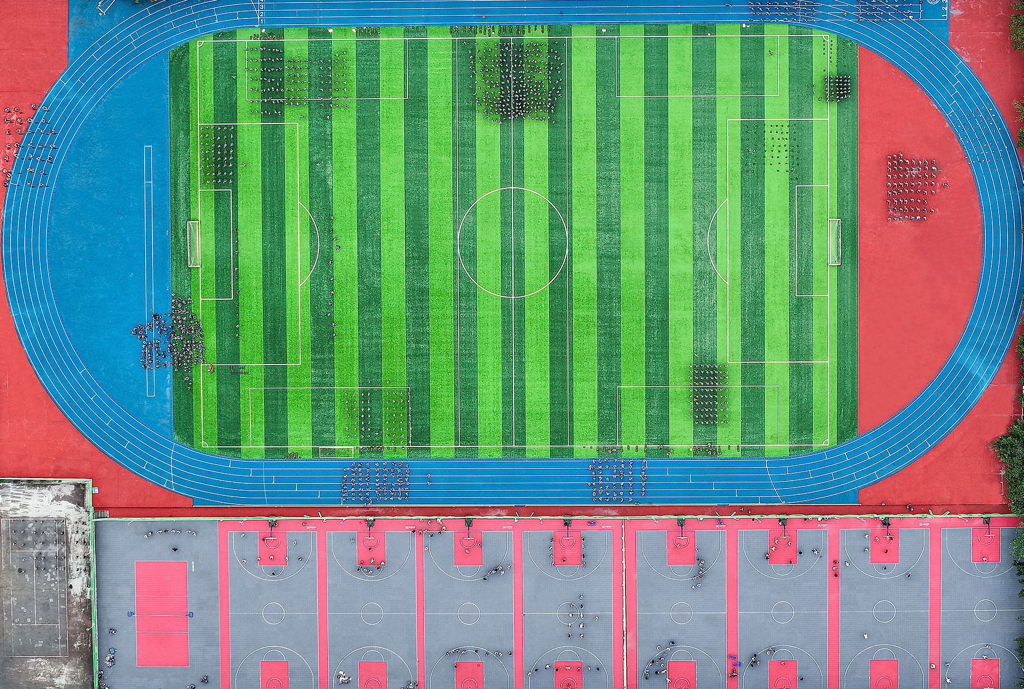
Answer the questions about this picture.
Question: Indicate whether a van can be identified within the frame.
No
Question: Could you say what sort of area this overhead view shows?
sports ground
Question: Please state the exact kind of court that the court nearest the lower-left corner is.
tennis court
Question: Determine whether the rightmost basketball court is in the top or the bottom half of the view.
bottom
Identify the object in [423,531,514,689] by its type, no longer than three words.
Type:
basketball court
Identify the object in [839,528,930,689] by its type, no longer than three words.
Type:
basketball court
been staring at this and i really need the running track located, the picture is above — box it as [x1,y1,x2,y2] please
[3,0,1024,506]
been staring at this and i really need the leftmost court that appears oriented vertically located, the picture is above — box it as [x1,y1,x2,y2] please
[2,519,68,657]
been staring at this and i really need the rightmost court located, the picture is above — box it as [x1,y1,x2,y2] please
[940,528,1024,689]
